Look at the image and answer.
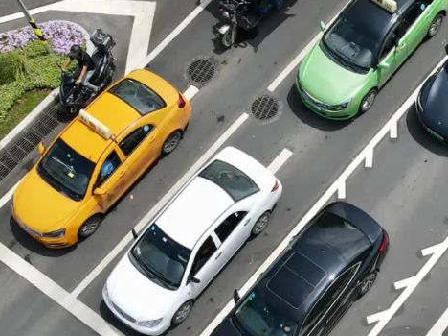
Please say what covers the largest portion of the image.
paved ground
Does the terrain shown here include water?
No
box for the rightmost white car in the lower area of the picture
[101,148,283,336]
